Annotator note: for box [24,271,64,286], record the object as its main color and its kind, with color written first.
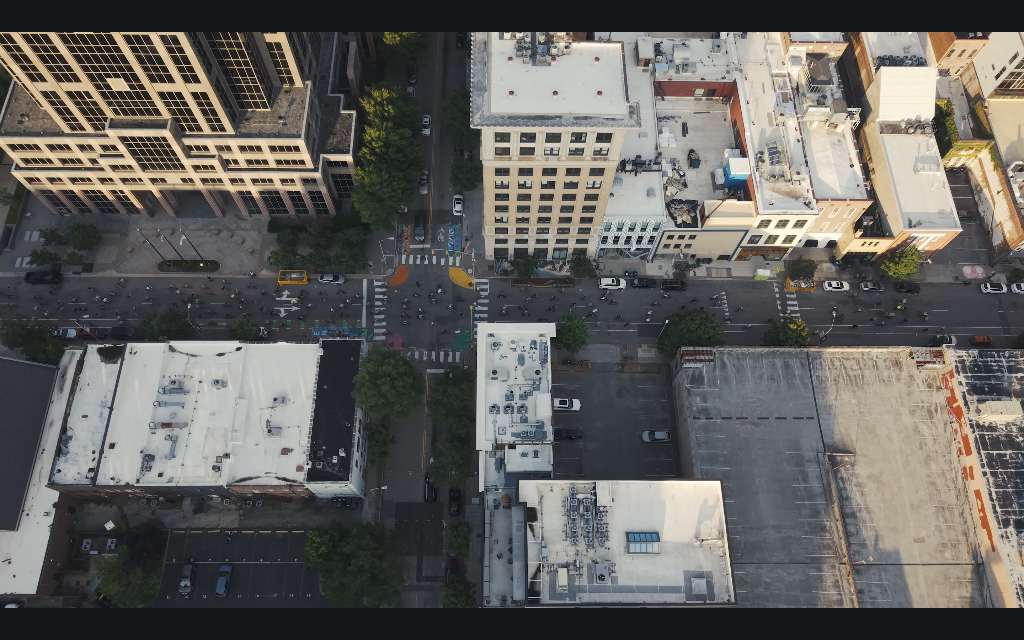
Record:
black vehicle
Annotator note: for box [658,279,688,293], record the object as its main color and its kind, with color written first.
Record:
black car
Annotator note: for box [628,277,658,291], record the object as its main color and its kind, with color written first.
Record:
black car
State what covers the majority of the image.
buildings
